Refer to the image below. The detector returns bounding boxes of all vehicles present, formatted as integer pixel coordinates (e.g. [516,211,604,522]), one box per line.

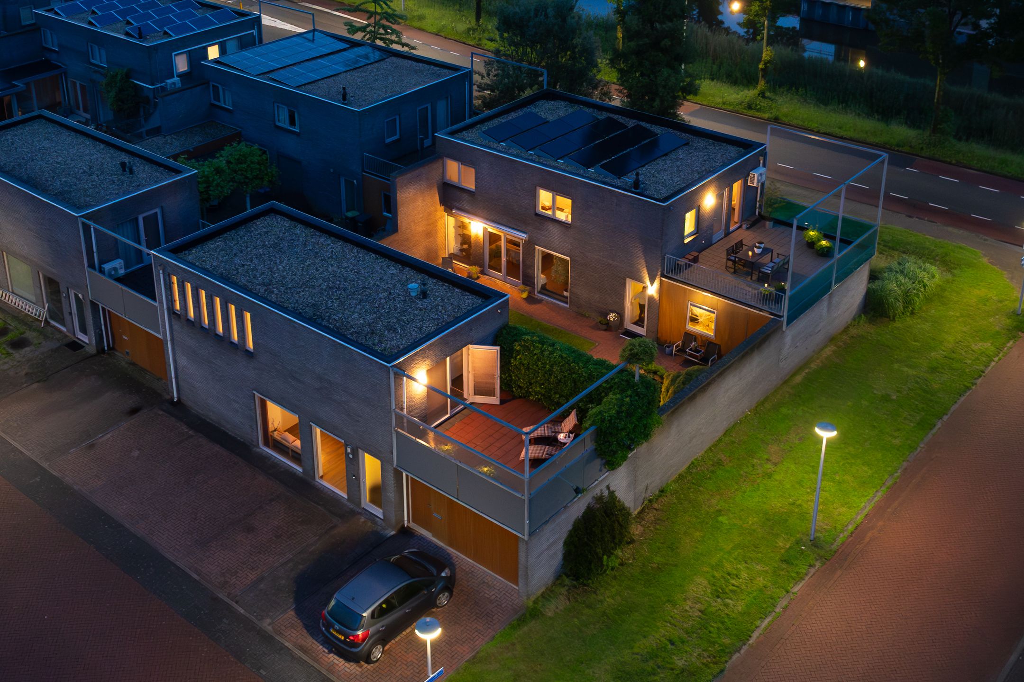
[312,555,451,664]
